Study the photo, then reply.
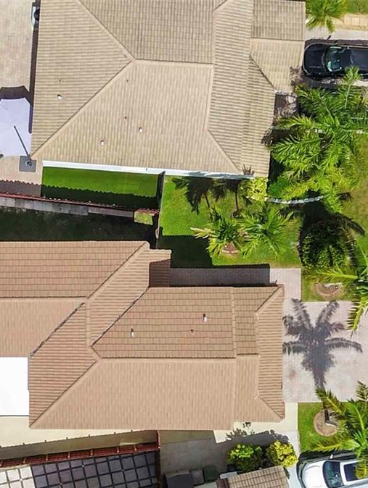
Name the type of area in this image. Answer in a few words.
residential area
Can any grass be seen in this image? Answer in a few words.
Yes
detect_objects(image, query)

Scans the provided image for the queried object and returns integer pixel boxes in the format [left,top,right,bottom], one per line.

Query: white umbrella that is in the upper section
[0,99,36,179]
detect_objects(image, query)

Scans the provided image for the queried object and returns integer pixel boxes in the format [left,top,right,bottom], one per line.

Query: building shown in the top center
[31,0,303,181]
